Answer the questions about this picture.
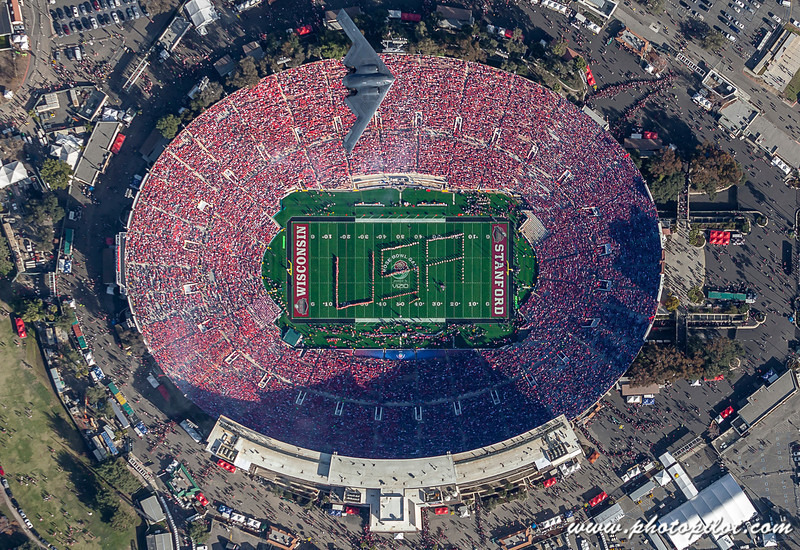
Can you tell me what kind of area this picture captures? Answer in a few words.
sports ground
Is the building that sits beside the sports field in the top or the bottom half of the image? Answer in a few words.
bottom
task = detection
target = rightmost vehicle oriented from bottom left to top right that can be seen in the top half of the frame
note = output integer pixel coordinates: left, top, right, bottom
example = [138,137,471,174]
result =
[757,29,773,52]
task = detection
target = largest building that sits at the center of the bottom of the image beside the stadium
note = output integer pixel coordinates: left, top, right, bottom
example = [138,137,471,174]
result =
[208,413,580,530]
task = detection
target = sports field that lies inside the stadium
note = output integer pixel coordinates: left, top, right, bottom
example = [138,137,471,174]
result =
[262,188,537,348]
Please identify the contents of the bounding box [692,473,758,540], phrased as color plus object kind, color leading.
white tent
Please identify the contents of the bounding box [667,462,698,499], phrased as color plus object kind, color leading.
white tent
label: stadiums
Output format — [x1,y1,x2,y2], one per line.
[125,52,665,456]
